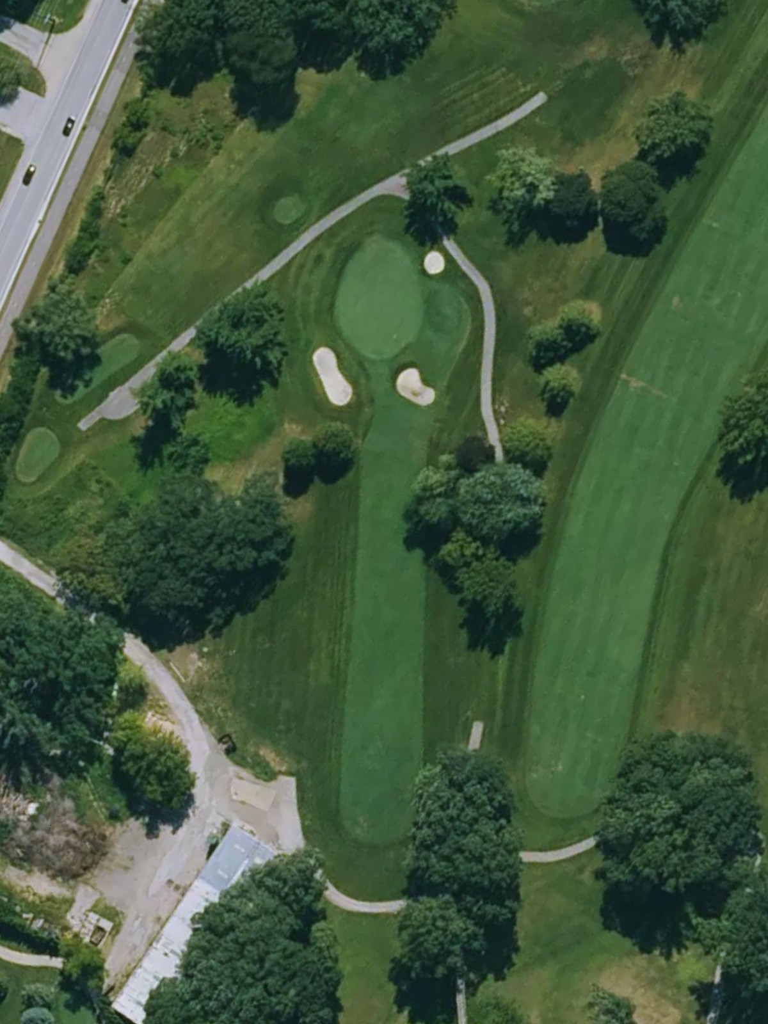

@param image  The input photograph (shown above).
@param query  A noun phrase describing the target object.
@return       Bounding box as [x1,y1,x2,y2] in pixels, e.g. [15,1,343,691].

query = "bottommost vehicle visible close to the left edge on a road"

[22,163,36,185]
